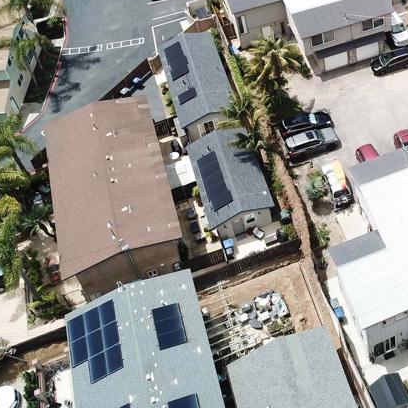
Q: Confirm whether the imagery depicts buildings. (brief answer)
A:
Yes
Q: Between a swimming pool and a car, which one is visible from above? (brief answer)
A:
car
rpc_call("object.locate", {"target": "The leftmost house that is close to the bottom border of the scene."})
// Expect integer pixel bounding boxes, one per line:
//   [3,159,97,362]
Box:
[66,270,225,408]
